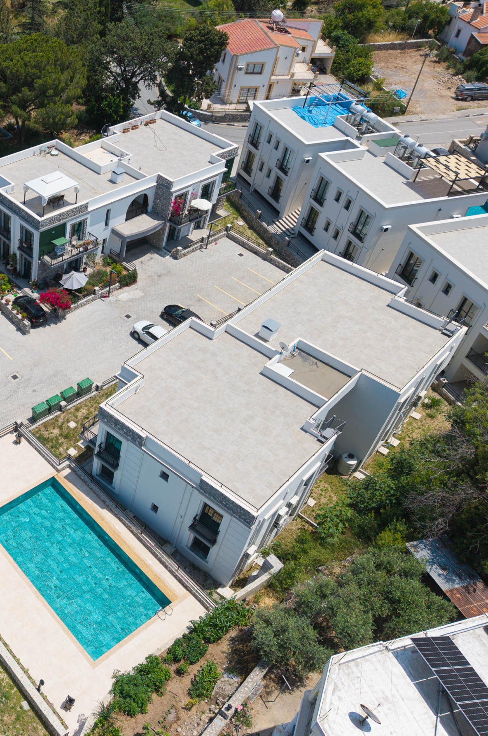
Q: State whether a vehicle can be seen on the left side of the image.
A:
Yes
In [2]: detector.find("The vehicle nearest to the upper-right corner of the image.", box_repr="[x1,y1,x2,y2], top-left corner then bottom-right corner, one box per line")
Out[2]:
[456,82,488,100]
